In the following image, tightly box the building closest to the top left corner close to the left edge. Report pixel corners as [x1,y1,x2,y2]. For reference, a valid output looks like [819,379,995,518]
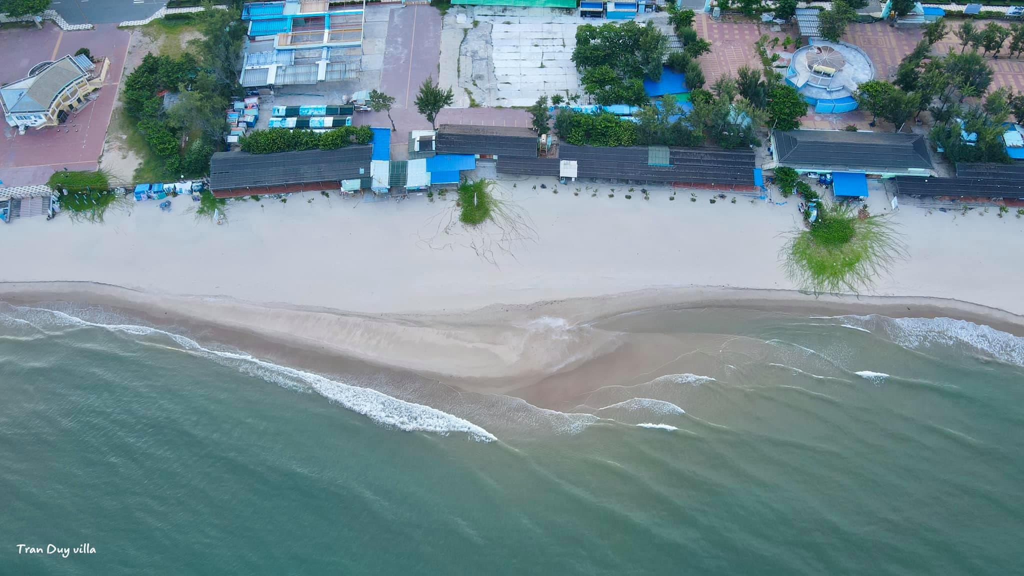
[0,54,114,133]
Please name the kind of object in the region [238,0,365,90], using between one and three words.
shed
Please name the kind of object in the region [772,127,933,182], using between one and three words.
building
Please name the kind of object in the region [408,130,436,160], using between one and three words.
house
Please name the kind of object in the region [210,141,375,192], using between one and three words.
building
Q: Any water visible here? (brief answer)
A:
Yes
